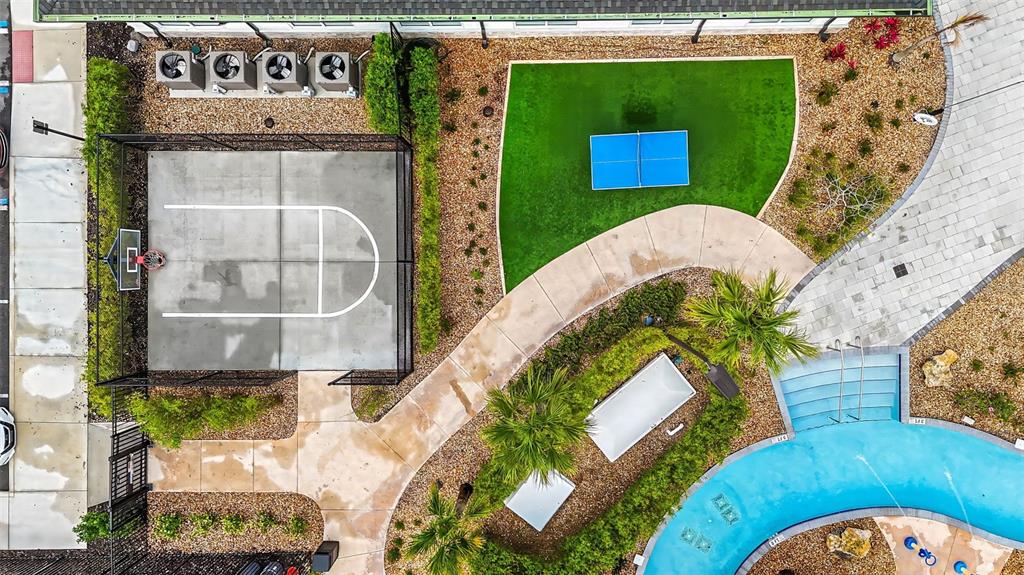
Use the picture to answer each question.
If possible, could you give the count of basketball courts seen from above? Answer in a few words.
1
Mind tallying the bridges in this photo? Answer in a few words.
0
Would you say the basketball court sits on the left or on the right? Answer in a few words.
left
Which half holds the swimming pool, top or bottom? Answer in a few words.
bottom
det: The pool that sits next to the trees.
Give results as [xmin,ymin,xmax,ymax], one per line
[635,344,1024,575]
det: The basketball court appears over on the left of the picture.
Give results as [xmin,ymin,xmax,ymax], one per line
[148,151,412,371]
